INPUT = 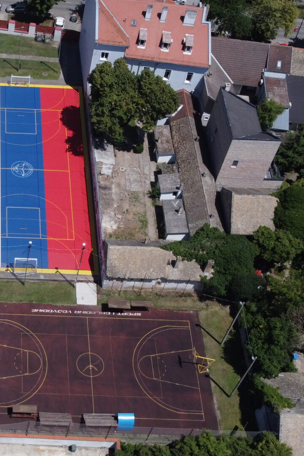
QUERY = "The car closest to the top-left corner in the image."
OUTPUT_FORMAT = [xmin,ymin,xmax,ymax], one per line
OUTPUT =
[8,3,33,16]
